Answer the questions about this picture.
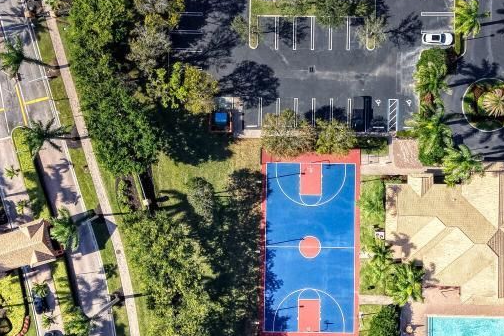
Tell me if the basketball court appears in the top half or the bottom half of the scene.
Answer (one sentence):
The bottom half of the photo is where the basketball court is.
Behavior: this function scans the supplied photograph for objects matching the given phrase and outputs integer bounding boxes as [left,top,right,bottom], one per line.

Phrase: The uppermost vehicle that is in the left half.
[32,294,47,318]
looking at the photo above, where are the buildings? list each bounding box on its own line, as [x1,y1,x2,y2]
[0,219,61,275]
[386,162,504,304]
